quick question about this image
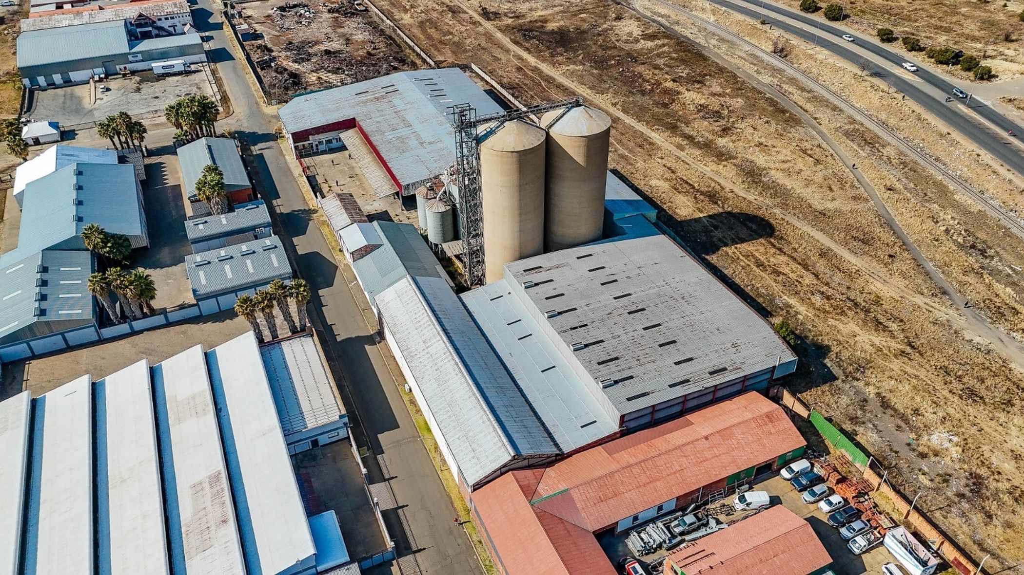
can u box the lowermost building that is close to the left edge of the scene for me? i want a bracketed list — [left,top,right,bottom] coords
[0,329,319,575]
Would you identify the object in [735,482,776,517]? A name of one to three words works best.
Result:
vehicle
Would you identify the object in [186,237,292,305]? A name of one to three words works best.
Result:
building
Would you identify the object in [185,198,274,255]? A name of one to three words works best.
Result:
building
